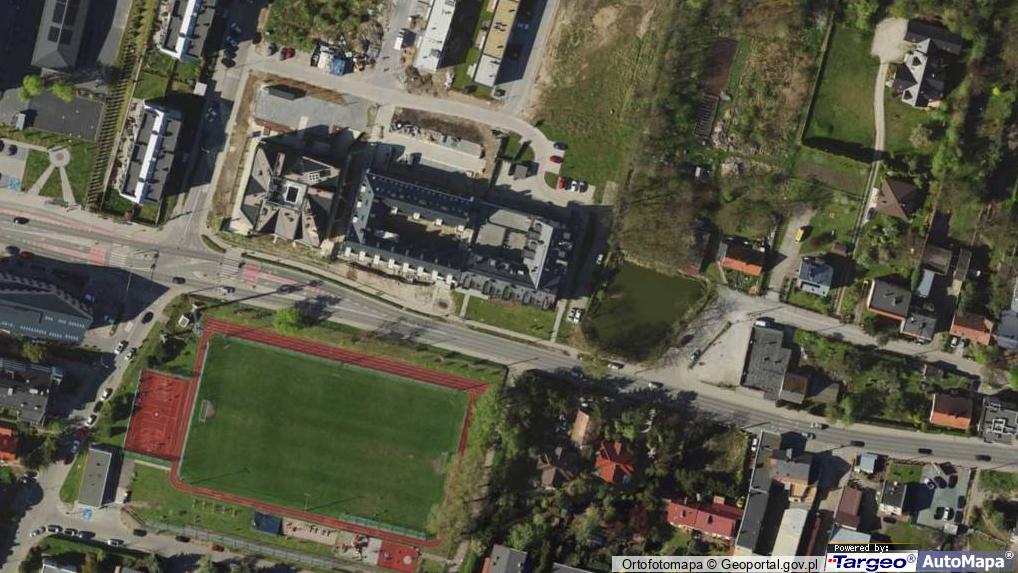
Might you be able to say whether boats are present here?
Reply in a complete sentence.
No, the picture doesn't show any boat.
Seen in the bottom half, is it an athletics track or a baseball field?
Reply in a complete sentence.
It is an athletics track that can be seen in the bottom half.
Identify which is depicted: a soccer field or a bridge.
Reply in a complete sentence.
This aerial view contains a soccer field.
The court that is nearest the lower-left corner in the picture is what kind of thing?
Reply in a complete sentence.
I'd identify the court that is nearest the lower-left corner as a basketball court.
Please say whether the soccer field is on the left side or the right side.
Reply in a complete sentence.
The soccer field appears in the left half of the scene.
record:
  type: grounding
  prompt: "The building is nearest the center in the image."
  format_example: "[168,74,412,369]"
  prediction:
[461,201,572,311]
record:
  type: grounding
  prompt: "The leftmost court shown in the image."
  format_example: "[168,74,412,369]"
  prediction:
[122,370,193,466]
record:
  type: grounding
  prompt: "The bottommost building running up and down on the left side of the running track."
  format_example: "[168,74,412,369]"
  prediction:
[79,448,112,509]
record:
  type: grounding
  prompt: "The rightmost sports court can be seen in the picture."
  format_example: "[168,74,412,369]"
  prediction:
[378,541,420,573]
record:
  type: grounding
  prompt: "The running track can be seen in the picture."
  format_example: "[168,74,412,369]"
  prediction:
[171,319,485,547]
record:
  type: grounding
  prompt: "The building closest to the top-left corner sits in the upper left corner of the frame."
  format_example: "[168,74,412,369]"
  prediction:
[31,0,90,73]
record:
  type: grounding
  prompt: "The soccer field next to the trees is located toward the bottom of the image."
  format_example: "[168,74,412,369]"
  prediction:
[181,332,466,533]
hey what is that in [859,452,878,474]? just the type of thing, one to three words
shed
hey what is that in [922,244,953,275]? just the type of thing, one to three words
barn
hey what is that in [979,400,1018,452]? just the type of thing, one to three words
house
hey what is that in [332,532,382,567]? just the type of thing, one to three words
playground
